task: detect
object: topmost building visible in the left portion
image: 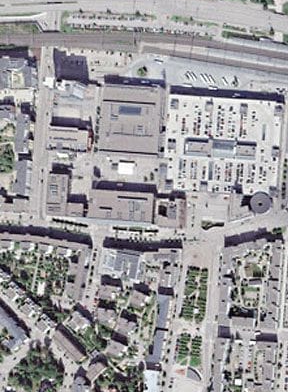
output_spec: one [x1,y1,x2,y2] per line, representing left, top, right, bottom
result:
[0,60,39,89]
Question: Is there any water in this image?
No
